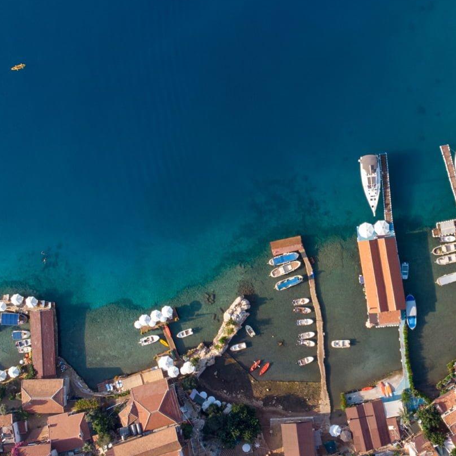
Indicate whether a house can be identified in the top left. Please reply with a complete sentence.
No, in the top left there is no house.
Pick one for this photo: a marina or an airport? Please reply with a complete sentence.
What you see here is a marina.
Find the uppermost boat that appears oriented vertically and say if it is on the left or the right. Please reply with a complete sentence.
The uppermost boat that appears oriented vertically sits on the right side.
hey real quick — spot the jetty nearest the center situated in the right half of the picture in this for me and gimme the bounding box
[270,236,304,256]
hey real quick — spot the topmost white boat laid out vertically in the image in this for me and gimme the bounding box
[361,154,381,216]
